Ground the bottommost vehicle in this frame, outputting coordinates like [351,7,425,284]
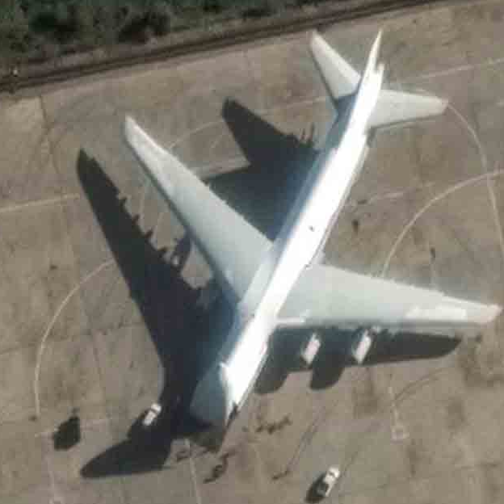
[316,469,340,502]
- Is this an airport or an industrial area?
airport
